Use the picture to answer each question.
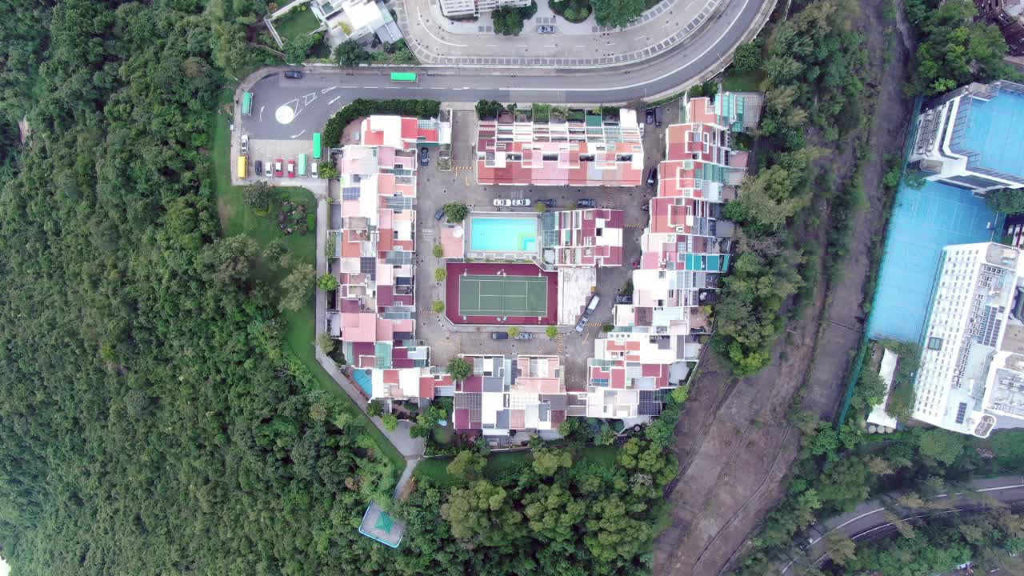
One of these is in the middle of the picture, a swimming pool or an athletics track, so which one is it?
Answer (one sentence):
Looking in the middle of the picture, you will find a swimming pool.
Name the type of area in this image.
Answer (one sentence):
The area seen from above is a residential area.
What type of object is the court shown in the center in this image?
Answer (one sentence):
What you see as the court shown in the center is a tennis court.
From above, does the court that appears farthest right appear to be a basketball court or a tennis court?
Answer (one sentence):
Specifically, the court that appears farthest right is a basketball court.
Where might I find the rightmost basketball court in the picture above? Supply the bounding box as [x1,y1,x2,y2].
[875,181,1014,344]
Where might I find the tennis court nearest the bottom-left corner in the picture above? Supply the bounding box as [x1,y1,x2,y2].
[447,263,557,325]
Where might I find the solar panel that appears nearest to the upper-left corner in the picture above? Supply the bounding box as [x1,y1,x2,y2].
[343,187,360,200]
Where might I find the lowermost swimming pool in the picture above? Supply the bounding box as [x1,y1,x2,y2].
[343,367,372,398]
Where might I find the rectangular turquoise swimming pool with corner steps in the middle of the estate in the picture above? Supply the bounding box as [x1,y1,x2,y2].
[464,211,558,271]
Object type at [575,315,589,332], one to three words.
car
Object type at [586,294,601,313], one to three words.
vehicle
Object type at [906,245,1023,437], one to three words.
building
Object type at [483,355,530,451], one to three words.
house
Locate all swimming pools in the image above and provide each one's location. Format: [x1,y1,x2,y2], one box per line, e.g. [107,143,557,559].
[343,367,372,398]
[464,211,558,271]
